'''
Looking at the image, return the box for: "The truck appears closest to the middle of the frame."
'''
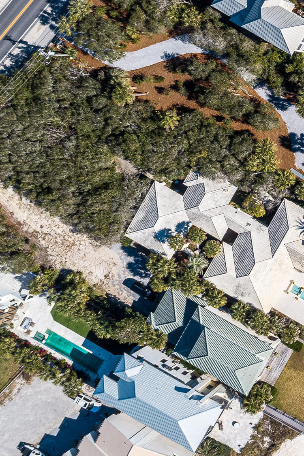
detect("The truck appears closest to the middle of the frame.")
[125,281,156,304]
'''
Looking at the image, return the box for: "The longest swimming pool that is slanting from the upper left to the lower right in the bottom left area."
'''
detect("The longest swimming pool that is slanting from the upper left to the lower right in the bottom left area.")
[42,328,107,375]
